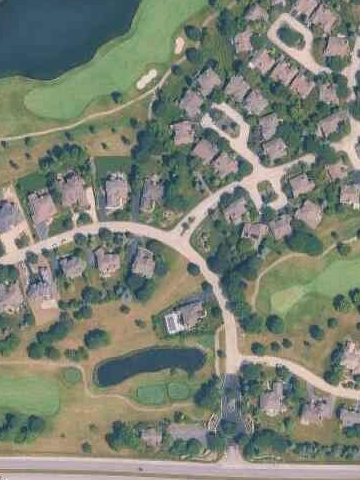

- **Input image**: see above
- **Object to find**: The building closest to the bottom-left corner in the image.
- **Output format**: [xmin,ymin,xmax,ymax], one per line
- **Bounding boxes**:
[140,425,164,446]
